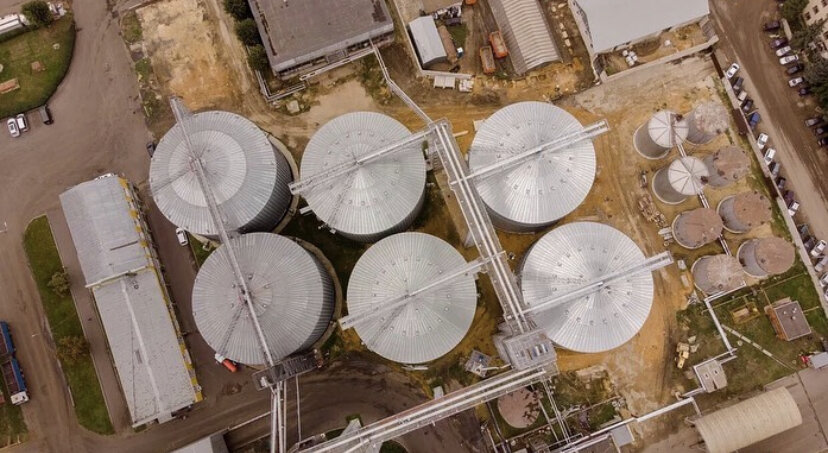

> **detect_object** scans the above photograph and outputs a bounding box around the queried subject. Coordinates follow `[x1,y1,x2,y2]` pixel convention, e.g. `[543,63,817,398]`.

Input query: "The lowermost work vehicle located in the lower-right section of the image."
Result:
[675,344,695,372]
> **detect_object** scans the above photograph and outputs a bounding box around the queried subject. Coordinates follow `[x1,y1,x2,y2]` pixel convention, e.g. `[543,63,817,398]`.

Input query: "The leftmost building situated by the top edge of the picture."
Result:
[249,0,395,83]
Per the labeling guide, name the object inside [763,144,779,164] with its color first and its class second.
white car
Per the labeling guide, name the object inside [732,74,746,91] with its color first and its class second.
gray car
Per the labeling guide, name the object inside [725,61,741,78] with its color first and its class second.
white car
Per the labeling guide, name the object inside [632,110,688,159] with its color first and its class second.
white silo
